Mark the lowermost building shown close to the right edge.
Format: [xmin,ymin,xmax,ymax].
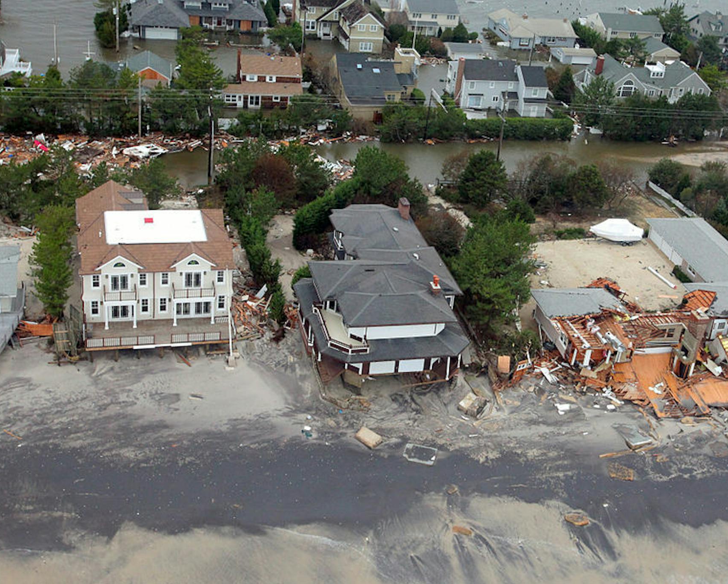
[532,210,728,419]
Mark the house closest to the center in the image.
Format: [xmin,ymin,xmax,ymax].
[294,196,470,387]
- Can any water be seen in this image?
Yes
